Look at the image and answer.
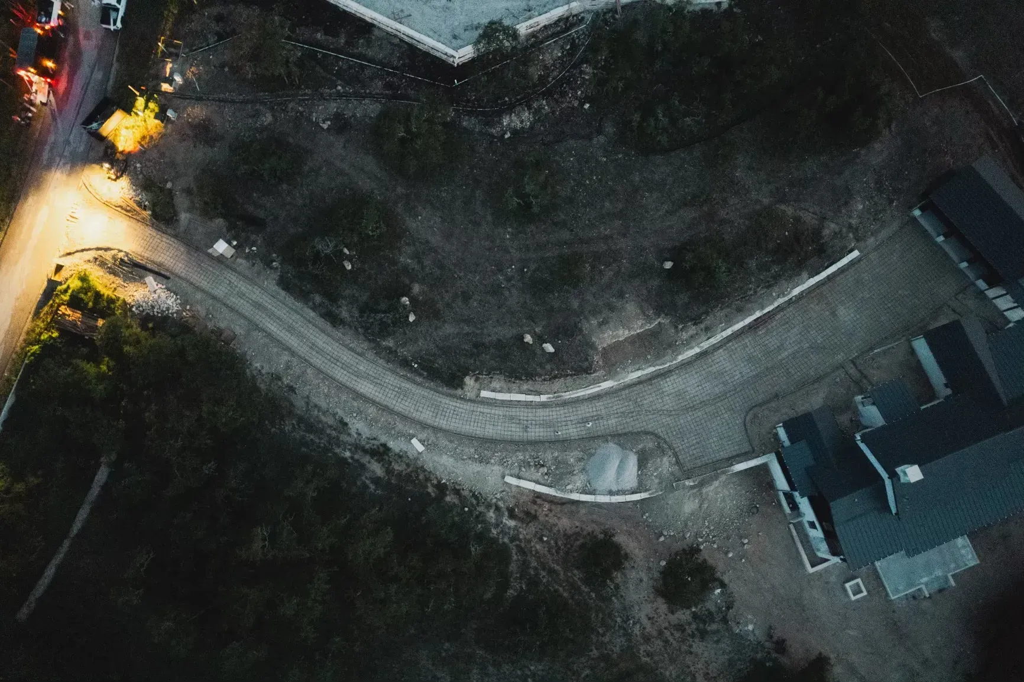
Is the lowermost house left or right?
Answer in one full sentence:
It is on the right.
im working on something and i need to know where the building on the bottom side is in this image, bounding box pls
[769,314,1024,571]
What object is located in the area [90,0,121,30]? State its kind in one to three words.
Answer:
truck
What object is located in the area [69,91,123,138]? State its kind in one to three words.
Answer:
trailer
